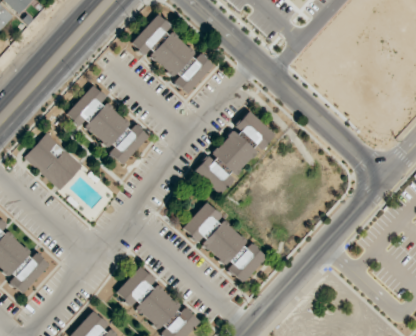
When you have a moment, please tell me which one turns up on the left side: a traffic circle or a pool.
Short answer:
pool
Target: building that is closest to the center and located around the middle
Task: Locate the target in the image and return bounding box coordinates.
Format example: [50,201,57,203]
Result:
[194,110,276,193]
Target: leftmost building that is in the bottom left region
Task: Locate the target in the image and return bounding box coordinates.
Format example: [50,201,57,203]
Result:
[0,220,48,295]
